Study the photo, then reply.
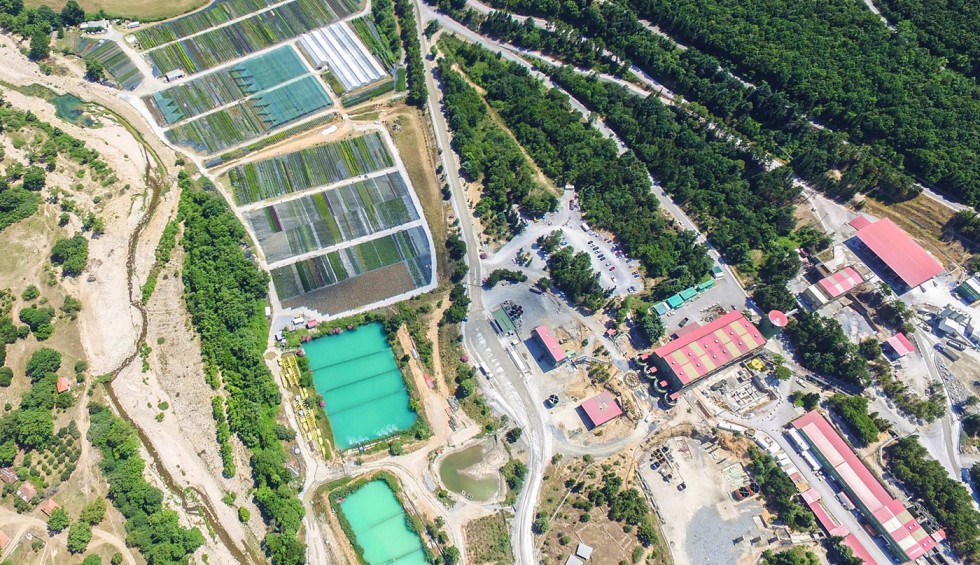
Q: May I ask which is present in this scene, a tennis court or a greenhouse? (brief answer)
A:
greenhouse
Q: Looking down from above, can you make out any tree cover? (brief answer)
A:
Yes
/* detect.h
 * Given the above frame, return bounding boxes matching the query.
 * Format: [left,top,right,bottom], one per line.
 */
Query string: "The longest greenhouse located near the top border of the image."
[300,20,388,93]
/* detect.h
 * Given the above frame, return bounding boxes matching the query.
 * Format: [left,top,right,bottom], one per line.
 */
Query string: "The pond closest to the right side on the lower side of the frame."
[441,446,499,502]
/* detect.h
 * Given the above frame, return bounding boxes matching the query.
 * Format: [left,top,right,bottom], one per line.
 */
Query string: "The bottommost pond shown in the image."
[341,479,427,565]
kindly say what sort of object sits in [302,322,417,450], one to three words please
pond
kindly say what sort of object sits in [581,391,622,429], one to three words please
shed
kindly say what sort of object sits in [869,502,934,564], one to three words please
building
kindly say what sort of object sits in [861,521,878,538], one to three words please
vehicle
